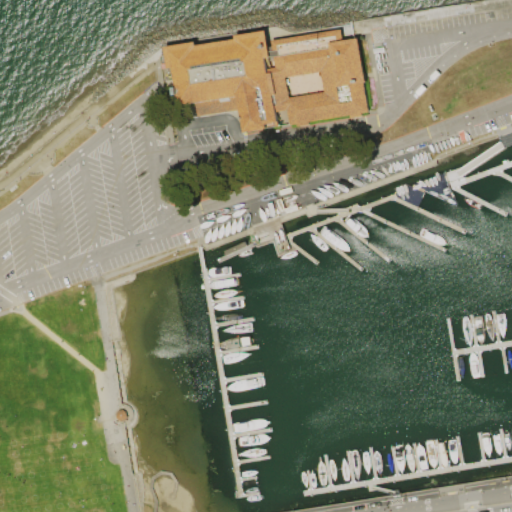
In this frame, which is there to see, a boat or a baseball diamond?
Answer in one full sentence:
The one in the frame is a boat.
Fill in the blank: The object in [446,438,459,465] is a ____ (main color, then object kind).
white boat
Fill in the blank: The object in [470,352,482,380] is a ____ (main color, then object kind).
white boat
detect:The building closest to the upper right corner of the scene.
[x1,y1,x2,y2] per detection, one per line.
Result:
[268,28,370,126]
